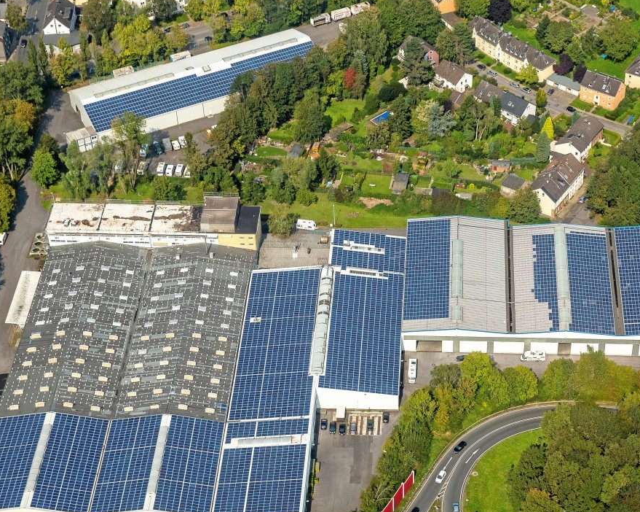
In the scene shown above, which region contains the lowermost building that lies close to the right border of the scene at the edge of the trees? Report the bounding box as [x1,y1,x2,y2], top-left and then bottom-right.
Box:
[402,216,640,355]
